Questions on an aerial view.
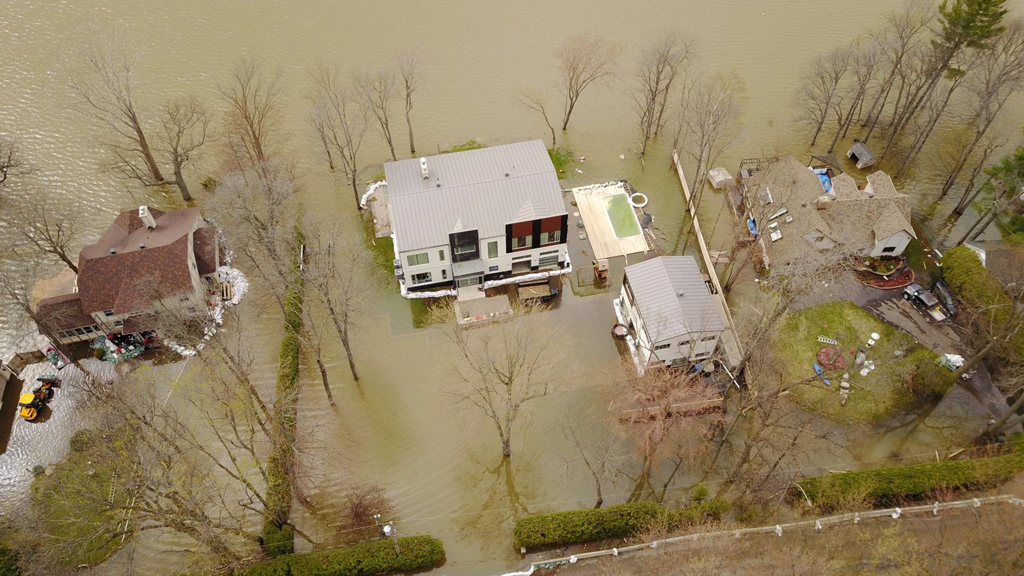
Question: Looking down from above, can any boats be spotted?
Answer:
Yes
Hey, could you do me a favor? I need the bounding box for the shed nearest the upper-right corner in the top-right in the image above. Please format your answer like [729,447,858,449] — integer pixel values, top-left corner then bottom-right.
[848,143,881,171]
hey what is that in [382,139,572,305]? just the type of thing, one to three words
house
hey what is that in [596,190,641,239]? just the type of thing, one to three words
swimming pool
